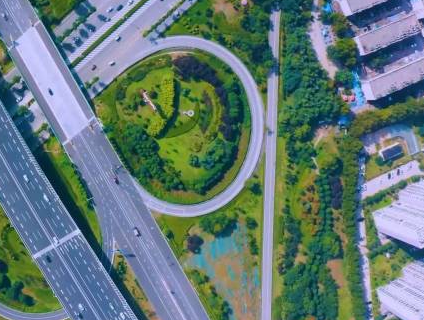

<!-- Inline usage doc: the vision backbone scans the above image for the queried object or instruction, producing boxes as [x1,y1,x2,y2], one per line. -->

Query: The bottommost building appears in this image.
[377,261,424,320]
